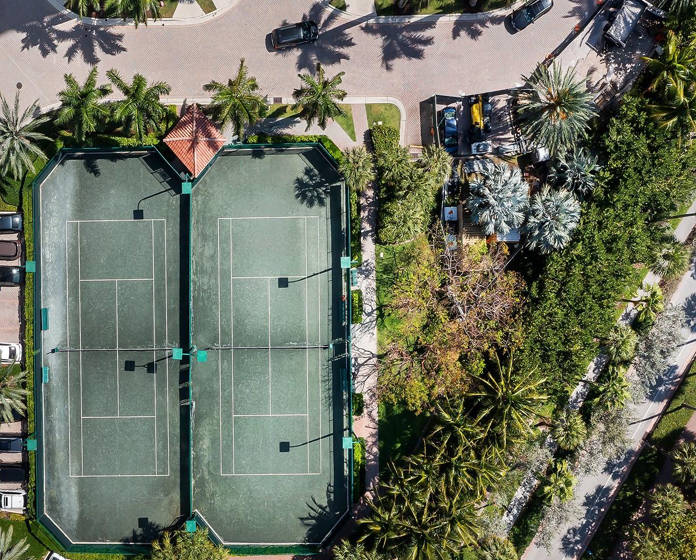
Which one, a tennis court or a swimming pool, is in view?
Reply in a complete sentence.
Looking from above, you can make out a tennis court.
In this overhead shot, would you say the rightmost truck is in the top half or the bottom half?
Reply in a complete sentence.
It is in the top half that the rightmost truck appears.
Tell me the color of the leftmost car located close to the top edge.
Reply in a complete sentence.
From above, the leftmost car located close to the top edge appears black.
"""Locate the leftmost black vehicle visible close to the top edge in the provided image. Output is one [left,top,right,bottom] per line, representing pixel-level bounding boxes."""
[272,17,321,48]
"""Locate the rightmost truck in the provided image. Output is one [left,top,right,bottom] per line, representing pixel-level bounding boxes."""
[599,0,655,54]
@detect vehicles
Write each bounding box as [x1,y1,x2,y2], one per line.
[0,461,25,485]
[599,0,655,54]
[0,406,22,426]
[272,17,321,48]
[509,0,559,29]
[0,213,22,233]
[0,433,24,455]
[470,87,497,134]
[0,266,24,287]
[0,342,21,362]
[442,105,462,153]
[0,489,26,512]
[0,239,20,259]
